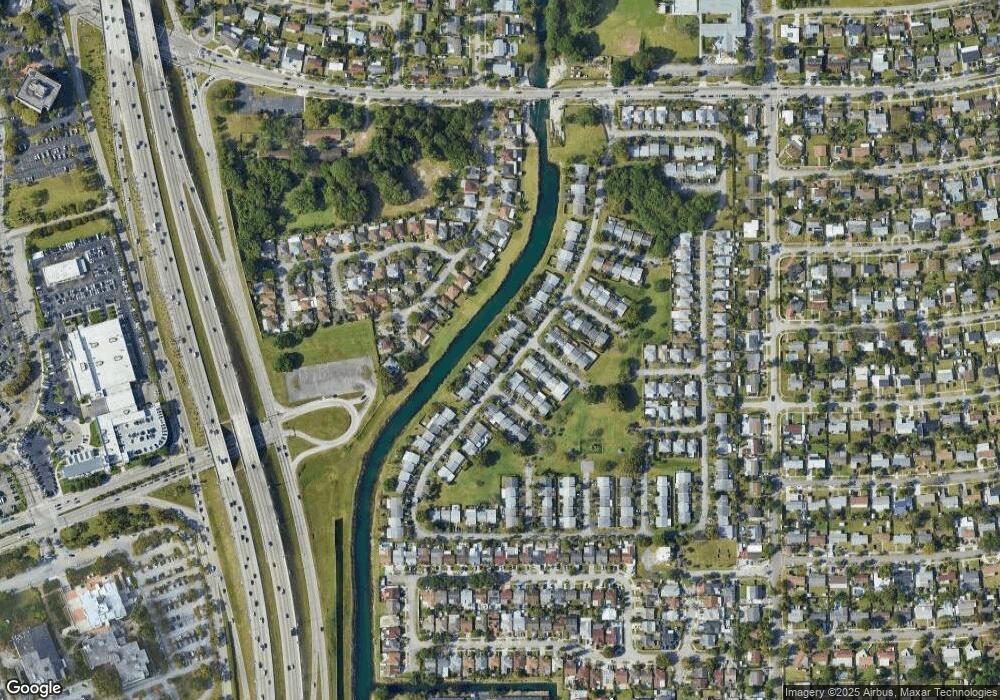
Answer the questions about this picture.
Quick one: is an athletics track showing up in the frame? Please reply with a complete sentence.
No, the picture doesn't show any athletics track.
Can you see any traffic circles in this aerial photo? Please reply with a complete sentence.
No, no traffic circle is visible in the scene.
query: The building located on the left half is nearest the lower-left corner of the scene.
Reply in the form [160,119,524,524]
[11,624,66,691]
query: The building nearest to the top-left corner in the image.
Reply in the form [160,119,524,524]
[11,68,61,113]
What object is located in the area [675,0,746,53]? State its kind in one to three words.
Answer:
building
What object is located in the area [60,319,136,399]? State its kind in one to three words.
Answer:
building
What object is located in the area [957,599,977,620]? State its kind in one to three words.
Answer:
house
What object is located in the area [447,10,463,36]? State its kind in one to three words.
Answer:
house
